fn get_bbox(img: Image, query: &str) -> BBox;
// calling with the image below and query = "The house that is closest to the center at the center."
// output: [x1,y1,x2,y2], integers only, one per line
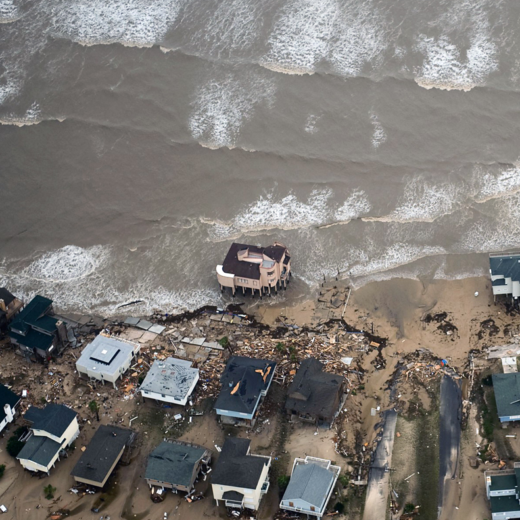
[216,243,292,299]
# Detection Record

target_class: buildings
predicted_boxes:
[16,403,77,481]
[214,354,275,430]
[485,461,520,520]
[280,456,342,520]
[140,357,199,411]
[216,243,292,299]
[489,252,520,309]
[145,439,215,497]
[0,385,21,435]
[286,360,349,430]
[6,294,78,364]
[492,372,520,430]
[212,434,271,517]
[70,422,138,494]
[76,333,141,388]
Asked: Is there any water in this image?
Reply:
Yes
